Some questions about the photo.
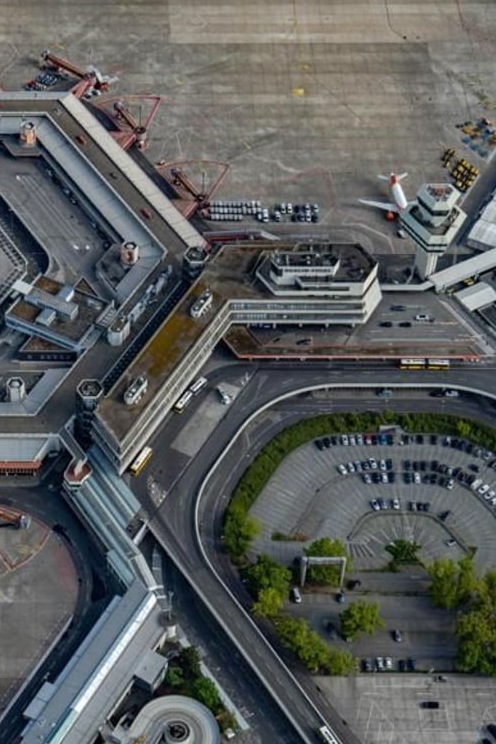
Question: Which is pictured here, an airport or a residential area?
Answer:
airport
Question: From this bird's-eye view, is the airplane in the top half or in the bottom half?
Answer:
top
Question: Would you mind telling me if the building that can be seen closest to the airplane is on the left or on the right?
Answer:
right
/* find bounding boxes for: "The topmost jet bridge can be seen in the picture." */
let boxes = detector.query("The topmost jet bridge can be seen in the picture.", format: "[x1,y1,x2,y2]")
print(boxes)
[41,52,97,93]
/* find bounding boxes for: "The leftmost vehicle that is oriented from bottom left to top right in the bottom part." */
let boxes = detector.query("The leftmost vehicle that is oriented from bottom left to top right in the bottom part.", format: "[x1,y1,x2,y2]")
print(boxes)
[130,447,152,476]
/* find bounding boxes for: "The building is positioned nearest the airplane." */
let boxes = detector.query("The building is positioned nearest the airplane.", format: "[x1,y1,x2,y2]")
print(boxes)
[399,183,468,285]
